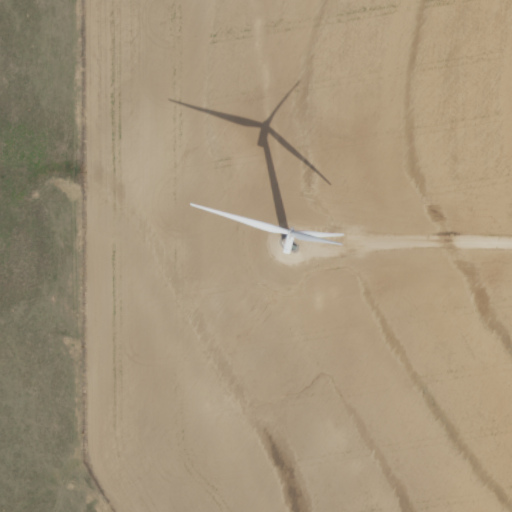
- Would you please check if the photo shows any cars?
No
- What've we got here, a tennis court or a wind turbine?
wind turbine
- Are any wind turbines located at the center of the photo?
Yes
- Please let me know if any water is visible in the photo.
No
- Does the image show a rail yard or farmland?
farmland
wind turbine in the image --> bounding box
[190,204,344,254]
